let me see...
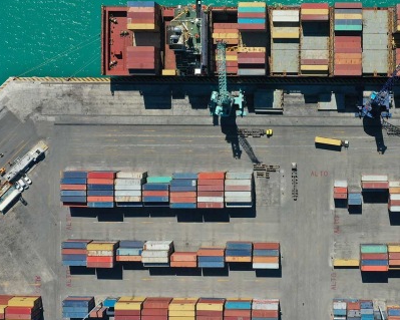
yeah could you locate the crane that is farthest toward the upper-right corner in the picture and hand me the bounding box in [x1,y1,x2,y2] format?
[356,67,400,121]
